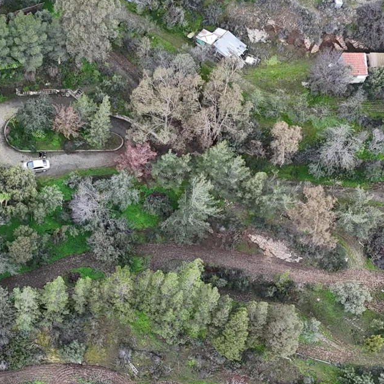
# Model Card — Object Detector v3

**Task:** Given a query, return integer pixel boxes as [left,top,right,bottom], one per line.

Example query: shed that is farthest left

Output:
[195,28,246,64]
